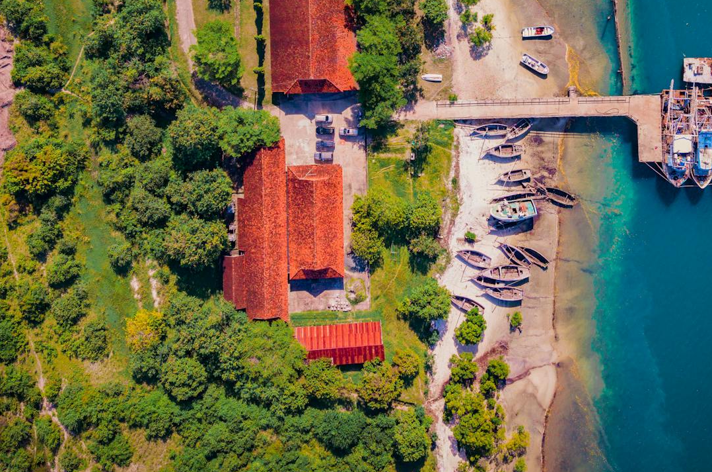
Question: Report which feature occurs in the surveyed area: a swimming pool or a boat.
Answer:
boat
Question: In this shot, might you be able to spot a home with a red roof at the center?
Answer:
Yes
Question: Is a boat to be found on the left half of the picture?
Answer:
No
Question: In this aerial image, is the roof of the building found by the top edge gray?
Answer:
No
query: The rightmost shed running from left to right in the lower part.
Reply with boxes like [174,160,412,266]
[296,319,386,361]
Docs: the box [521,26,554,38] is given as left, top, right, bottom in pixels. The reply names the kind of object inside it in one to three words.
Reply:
boat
